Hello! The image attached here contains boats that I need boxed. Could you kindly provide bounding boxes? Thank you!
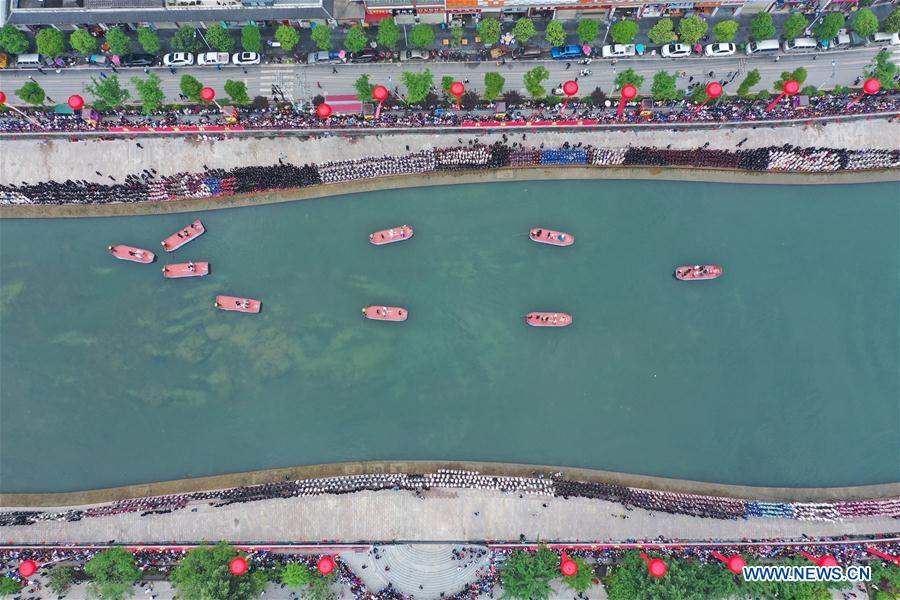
[674,264,723,279]
[160,220,207,251]
[110,246,158,264]
[526,312,573,328]
[214,295,264,314]
[368,226,414,244]
[163,262,211,278]
[528,228,576,246]
[363,306,410,322]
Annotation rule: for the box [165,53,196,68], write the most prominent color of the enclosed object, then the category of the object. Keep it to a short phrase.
white car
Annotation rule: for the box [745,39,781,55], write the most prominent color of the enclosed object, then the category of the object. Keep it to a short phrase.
white vehicle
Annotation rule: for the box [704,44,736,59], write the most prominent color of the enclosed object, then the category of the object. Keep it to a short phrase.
white car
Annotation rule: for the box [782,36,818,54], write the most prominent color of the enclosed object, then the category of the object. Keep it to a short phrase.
white vehicle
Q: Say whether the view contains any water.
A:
Yes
